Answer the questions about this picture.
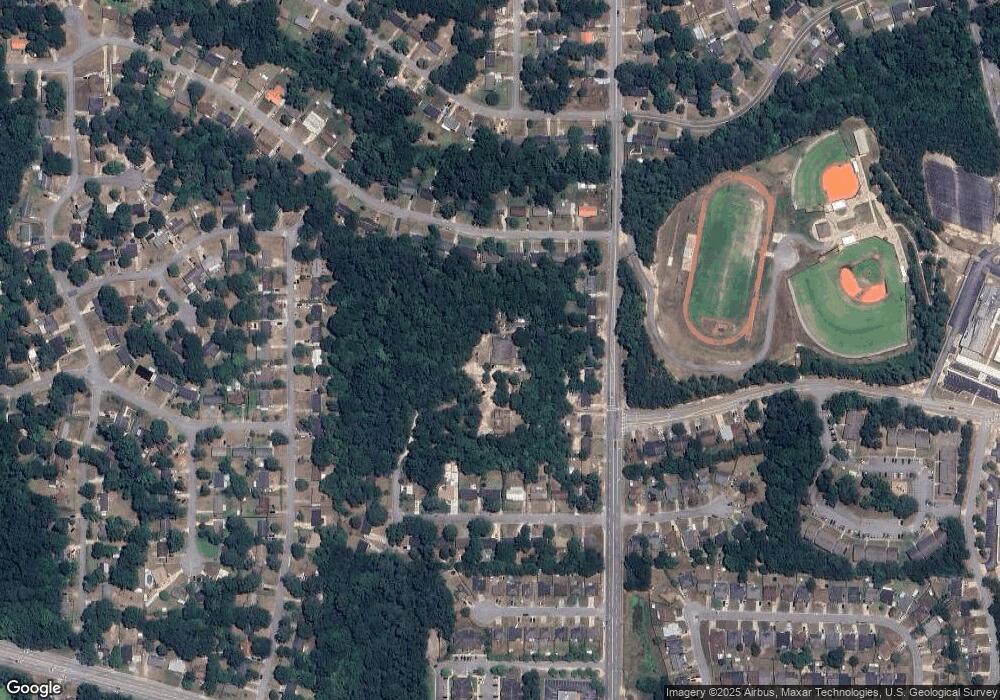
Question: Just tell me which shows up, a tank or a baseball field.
baseball field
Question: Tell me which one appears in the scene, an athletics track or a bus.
athletics track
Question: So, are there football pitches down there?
Yes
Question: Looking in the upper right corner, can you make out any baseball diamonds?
Yes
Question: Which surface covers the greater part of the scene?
trees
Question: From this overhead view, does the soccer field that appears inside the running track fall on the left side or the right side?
right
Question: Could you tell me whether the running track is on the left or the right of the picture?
right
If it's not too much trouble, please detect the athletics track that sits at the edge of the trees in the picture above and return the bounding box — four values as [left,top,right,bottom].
[683,172,772,346]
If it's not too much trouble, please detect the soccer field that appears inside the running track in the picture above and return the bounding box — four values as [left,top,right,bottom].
[692,180,763,314]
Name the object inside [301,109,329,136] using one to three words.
house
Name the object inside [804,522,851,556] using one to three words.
building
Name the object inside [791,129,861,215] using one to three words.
baseball field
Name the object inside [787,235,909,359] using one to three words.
baseball field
